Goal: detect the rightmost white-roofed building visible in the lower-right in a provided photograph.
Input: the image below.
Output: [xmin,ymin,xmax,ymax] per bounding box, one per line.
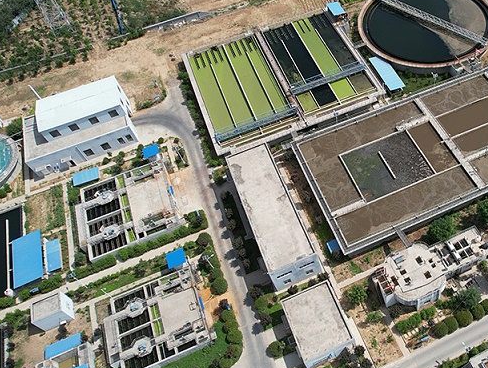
[372,224,488,313]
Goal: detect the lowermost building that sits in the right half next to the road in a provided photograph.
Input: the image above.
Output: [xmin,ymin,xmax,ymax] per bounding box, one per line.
[281,280,359,368]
